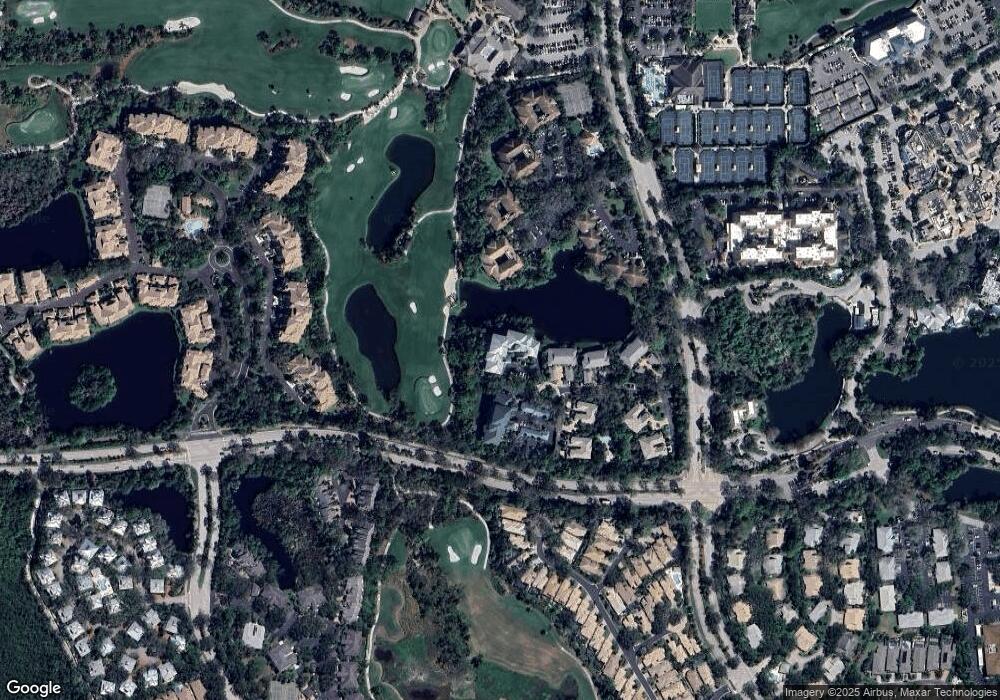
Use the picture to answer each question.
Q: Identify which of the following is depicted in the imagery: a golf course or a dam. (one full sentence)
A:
The one in the frame is a golf course.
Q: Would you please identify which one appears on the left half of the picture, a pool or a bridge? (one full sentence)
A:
Visible on the left half of the picture is a pool.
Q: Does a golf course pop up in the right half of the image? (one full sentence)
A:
Yes, in the right half of the image there is a golf course.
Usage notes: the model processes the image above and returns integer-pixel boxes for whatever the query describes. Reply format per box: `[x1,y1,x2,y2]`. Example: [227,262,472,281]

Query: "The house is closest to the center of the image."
[484,328,543,376]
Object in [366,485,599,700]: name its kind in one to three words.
golf course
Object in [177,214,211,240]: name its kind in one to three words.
swimming pool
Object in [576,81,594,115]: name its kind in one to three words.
tennis court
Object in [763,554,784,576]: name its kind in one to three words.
house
